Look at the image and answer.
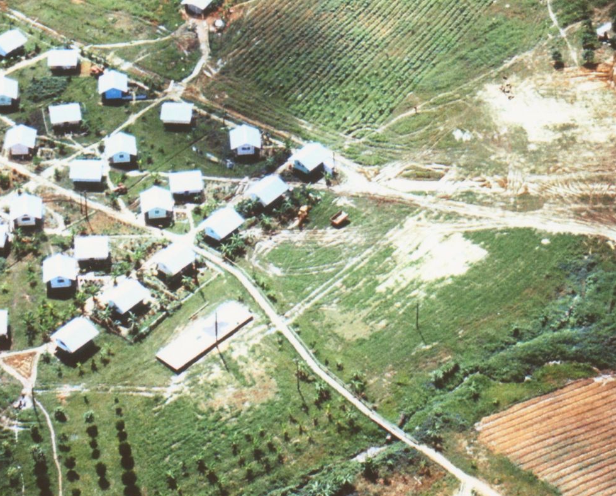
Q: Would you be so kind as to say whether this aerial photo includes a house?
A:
Yes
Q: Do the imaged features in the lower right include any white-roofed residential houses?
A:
No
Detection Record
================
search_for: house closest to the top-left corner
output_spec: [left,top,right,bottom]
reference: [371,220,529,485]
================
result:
[0,31,28,66]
